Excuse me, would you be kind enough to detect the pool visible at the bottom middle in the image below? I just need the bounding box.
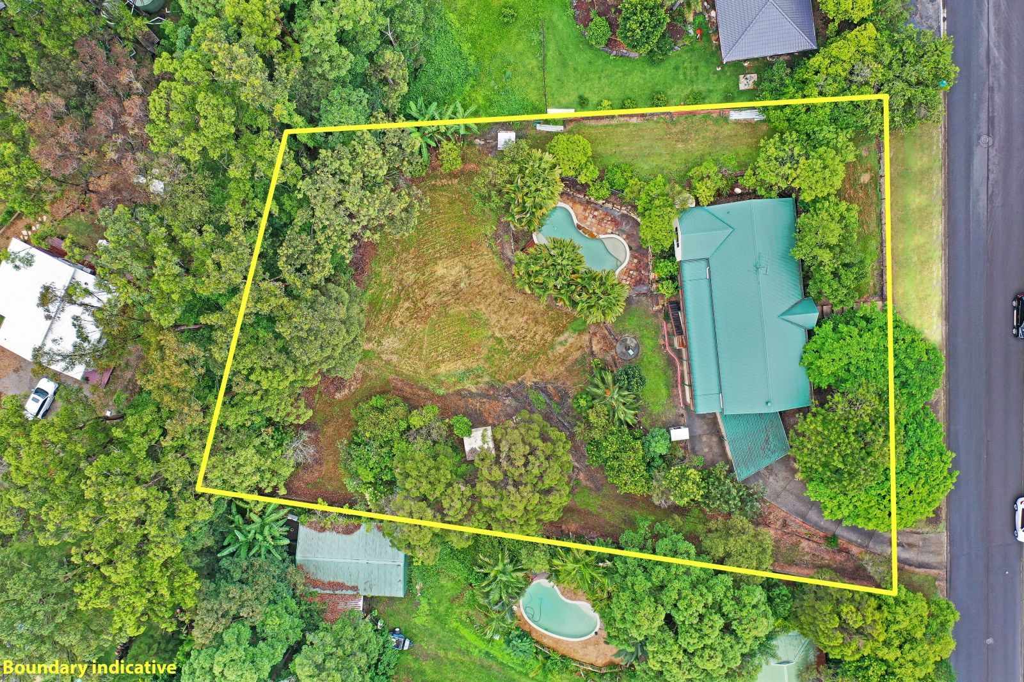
[520,579,600,641]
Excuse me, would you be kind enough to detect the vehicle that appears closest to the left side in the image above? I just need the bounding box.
[21,374,62,421]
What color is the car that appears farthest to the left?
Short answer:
white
